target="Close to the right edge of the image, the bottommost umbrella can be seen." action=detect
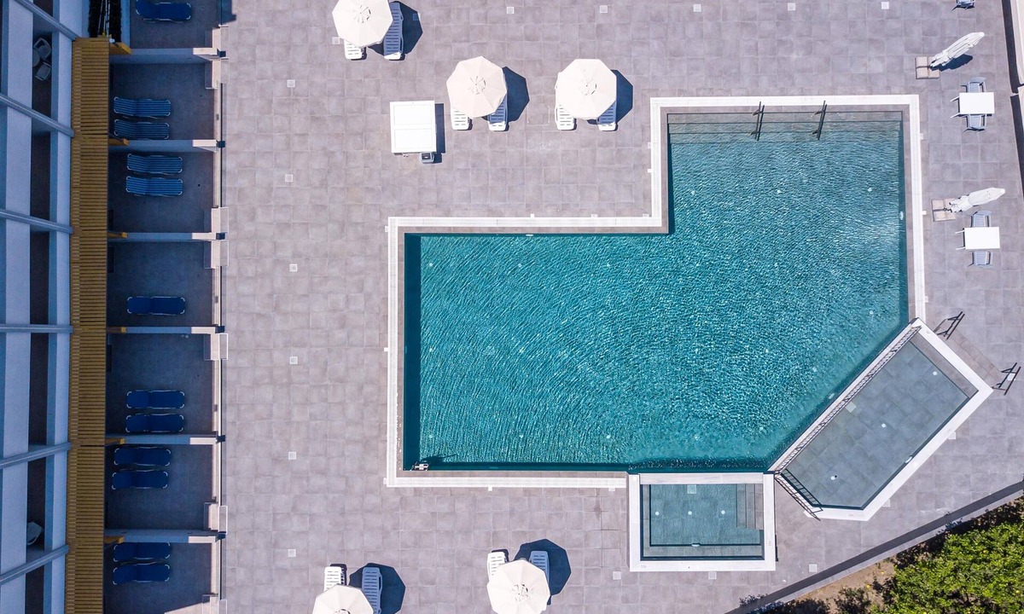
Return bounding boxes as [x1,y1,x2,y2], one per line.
[932,191,999,222]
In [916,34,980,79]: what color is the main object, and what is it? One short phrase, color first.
white umbrella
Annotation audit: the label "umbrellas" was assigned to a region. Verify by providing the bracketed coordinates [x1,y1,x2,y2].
[332,0,394,48]
[932,191,999,222]
[916,34,980,79]
[488,556,550,614]
[314,582,374,614]
[558,60,616,118]
[446,57,508,119]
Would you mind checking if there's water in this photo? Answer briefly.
Yes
